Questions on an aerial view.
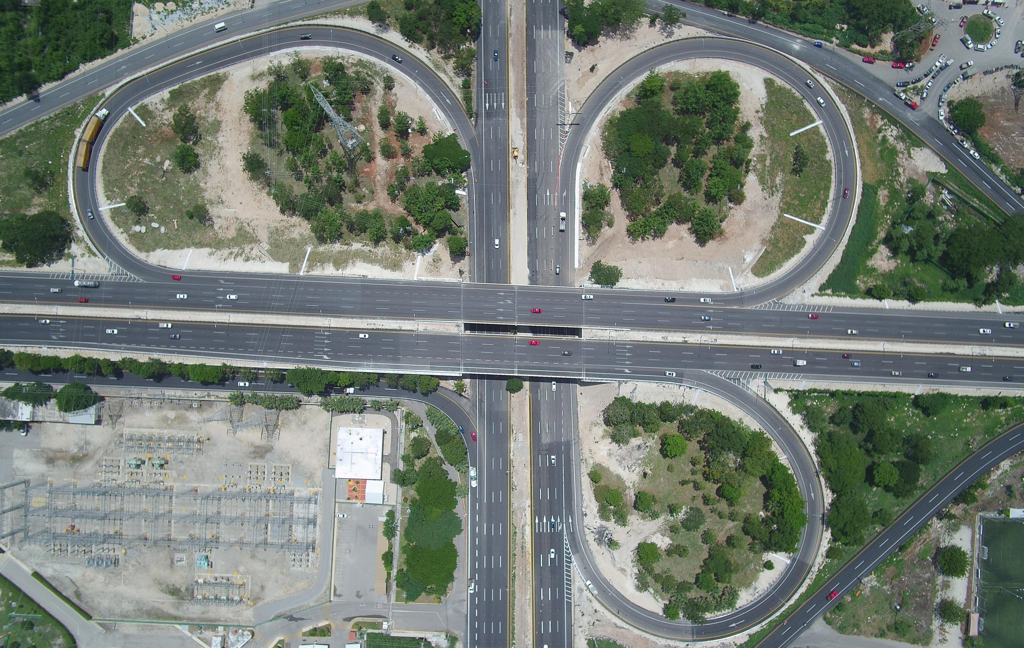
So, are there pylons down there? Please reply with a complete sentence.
Yes, a pylon is visible in the scene.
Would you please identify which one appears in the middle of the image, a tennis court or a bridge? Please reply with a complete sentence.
What appears in the middle of the image is a bridge.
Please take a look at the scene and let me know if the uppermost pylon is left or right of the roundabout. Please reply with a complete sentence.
The uppermost pylon is to the left of the roundabout.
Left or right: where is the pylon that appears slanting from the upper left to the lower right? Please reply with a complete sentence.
The pylon that appears slanting from the upper left to the lower right is on the left side of the image.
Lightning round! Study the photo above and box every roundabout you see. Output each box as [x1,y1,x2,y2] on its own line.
[964,13,995,44]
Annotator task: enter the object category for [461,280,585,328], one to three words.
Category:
bridge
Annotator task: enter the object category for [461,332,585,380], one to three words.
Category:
bridge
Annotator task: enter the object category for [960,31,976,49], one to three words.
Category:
vehicle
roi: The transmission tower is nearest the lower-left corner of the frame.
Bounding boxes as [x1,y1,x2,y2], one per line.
[61,400,123,420]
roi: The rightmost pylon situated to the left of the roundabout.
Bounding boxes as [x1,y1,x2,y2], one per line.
[886,0,960,44]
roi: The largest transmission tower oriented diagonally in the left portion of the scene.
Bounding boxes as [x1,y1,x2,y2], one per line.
[307,84,369,155]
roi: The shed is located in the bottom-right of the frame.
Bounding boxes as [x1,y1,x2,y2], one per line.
[962,610,979,636]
